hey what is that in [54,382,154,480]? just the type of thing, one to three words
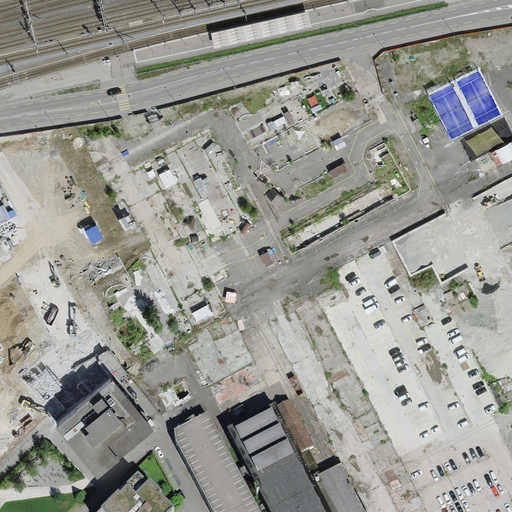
building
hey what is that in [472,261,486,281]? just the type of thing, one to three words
vehicle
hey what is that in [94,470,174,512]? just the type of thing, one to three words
building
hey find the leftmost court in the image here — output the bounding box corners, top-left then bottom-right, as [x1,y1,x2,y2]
[428,84,476,140]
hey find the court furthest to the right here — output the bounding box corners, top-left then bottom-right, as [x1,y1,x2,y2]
[456,70,502,128]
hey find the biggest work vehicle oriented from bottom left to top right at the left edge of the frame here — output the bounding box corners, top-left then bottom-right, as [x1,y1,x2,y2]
[12,340,34,364]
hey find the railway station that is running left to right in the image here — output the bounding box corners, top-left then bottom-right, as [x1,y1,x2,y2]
[134,0,420,62]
